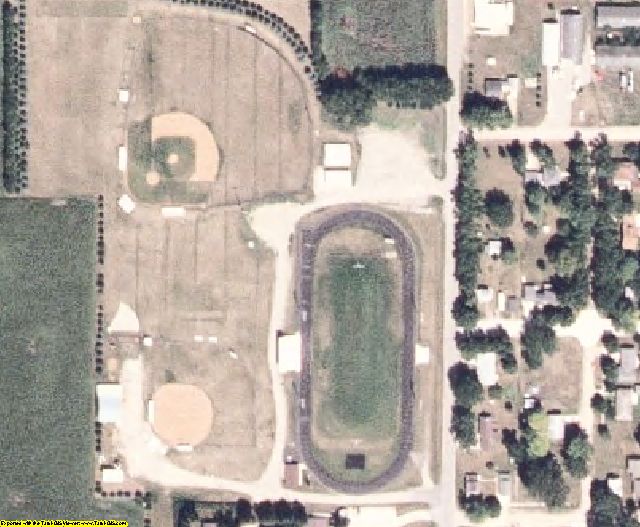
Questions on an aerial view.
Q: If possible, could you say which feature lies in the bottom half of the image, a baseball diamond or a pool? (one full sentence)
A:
It is a baseball diamond that can be seen in the bottom half of the image.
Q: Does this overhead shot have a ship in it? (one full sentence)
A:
No, this view has no ship in it.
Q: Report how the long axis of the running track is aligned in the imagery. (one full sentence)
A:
In this picture, the running track lies up and down.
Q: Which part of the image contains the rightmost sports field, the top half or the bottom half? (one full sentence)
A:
The rightmost sports field sits in the bottom half of the picture.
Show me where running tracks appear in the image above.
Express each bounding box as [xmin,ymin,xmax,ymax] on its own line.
[301,208,415,491]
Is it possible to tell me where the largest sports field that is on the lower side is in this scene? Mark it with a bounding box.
[314,222,401,479]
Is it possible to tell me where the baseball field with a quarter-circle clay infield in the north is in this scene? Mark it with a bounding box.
[131,19,312,205]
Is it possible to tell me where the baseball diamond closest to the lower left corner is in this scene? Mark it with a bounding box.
[152,384,213,446]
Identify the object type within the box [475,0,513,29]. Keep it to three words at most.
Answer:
building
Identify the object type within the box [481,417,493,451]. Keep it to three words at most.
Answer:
house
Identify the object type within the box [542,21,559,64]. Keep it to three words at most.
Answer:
shed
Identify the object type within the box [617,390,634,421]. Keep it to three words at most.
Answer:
house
